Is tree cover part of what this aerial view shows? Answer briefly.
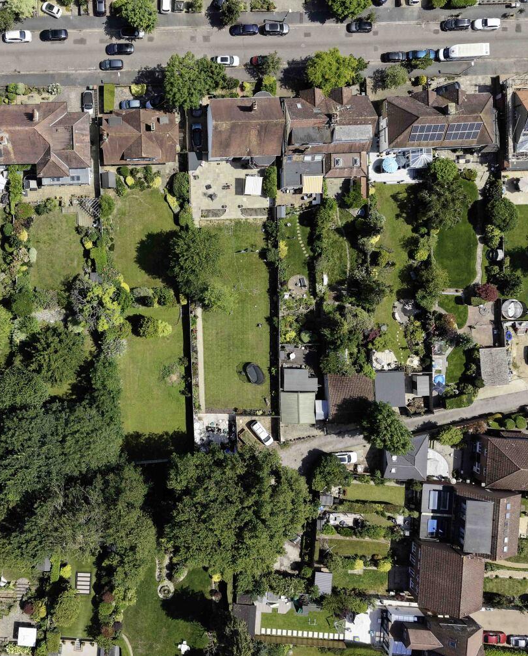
Yes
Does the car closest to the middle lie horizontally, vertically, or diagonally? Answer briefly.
diagonally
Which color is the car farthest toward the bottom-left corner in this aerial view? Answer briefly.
white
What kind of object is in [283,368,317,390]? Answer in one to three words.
shed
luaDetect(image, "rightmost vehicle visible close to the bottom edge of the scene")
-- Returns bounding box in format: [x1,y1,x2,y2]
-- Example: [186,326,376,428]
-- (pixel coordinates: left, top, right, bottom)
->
[509,634,528,646]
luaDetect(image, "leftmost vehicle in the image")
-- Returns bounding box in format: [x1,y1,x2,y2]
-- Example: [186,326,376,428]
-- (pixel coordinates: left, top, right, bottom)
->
[2,28,31,44]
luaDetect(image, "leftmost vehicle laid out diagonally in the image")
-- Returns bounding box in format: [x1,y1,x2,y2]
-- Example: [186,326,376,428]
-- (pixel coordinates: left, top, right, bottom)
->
[40,1,63,19]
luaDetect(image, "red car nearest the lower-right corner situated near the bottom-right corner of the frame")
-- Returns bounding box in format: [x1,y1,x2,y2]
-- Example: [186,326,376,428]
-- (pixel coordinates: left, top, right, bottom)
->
[482,631,506,643]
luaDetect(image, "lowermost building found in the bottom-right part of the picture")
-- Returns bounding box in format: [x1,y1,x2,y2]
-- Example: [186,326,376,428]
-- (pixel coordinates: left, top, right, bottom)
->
[381,600,483,656]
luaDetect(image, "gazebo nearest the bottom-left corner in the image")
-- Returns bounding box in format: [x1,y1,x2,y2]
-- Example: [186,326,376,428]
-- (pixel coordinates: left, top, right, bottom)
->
[18,624,37,647]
